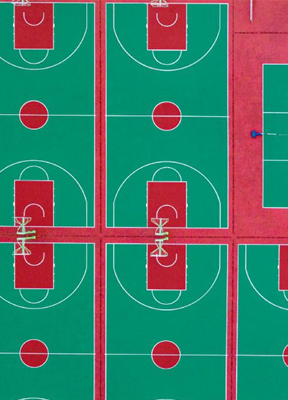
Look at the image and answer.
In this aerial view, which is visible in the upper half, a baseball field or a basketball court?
basketball court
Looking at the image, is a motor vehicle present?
No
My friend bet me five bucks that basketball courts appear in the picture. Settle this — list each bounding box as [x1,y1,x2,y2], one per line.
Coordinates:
[0,242,95,400]
[0,1,95,227]
[235,244,288,400]
[105,242,228,400]
[105,2,229,229]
